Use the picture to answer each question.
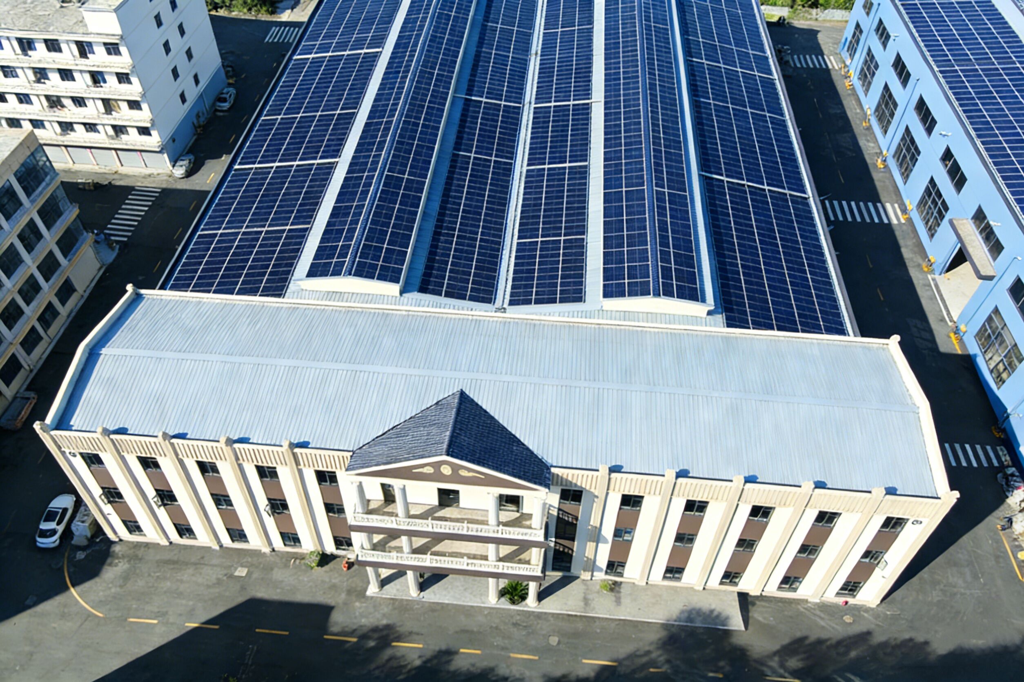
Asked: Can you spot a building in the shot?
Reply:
Yes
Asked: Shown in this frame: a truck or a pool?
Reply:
truck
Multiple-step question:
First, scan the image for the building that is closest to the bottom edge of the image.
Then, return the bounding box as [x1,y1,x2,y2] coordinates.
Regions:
[38,280,957,607]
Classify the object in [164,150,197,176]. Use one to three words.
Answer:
car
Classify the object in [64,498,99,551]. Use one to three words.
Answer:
truck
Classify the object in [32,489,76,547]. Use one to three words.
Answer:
car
